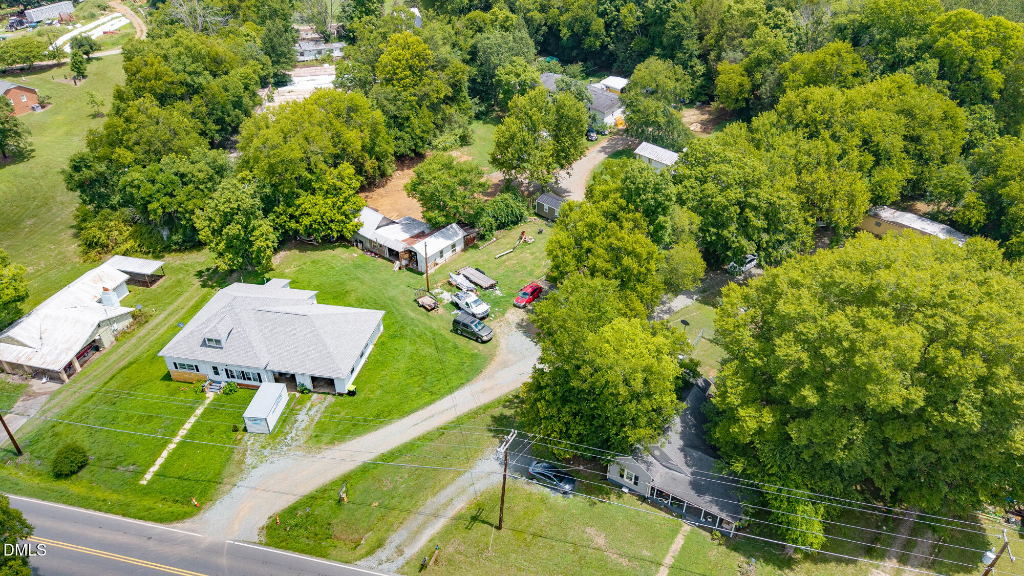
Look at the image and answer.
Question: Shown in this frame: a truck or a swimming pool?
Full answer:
Of the two, only a truck appears.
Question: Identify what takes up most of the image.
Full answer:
What you mostly see from above here is trees.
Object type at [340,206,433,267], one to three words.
barn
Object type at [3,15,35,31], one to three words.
vehicle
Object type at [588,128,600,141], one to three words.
vehicle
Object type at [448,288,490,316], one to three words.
truck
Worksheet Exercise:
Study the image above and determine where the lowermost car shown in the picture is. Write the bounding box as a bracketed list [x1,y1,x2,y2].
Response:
[523,458,580,493]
